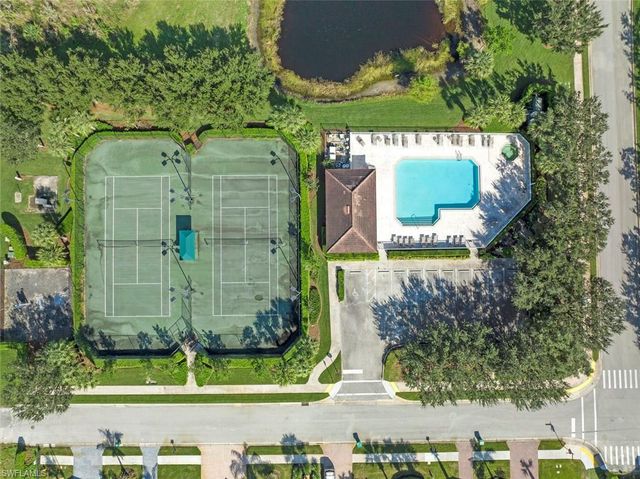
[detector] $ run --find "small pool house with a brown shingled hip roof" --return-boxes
[326,169,378,253]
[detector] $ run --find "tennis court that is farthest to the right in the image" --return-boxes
[191,139,299,355]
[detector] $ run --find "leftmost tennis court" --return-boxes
[86,139,191,355]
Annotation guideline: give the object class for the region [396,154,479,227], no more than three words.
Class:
swimming pool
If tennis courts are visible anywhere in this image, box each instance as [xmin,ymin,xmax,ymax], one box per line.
[191,139,299,355]
[86,139,191,355]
